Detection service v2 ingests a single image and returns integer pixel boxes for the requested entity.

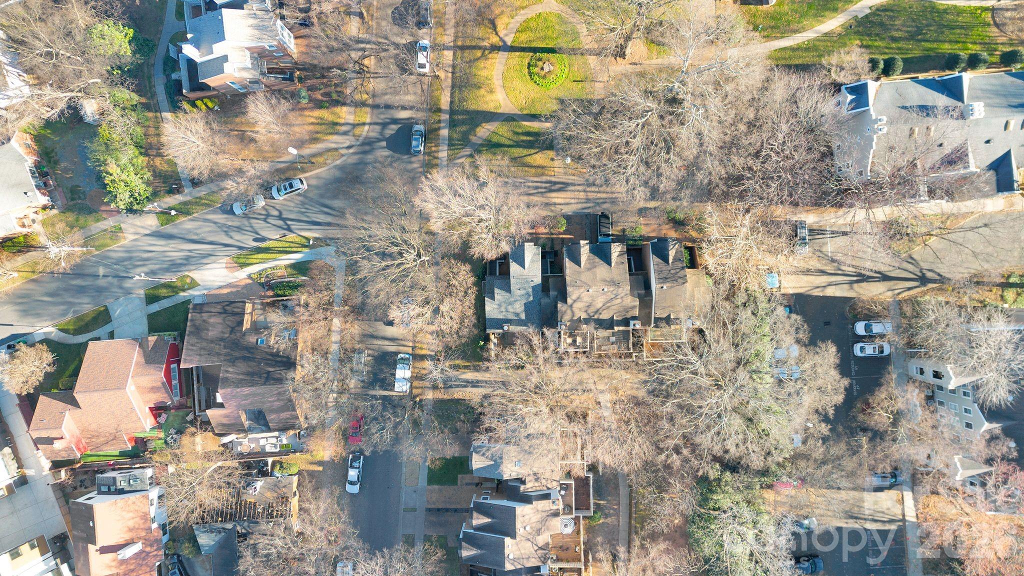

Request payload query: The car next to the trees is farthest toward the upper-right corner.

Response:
[793,221,811,256]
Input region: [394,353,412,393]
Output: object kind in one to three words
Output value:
vehicle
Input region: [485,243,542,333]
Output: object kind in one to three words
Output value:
house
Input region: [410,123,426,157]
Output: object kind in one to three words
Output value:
car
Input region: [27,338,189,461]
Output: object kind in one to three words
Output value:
house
